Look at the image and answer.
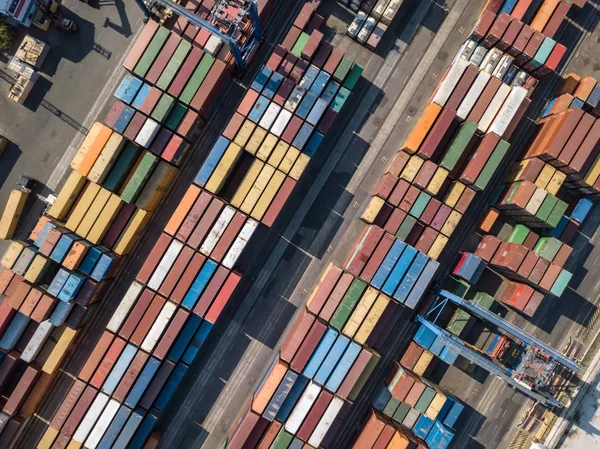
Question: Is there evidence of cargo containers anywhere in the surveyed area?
Yes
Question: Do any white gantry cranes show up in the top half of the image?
No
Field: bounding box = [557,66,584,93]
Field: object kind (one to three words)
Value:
shipping container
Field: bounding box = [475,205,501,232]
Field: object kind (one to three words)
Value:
shipping container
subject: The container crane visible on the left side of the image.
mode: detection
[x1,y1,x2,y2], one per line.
[138,0,267,74]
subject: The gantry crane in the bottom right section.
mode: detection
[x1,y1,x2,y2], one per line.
[410,281,589,410]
